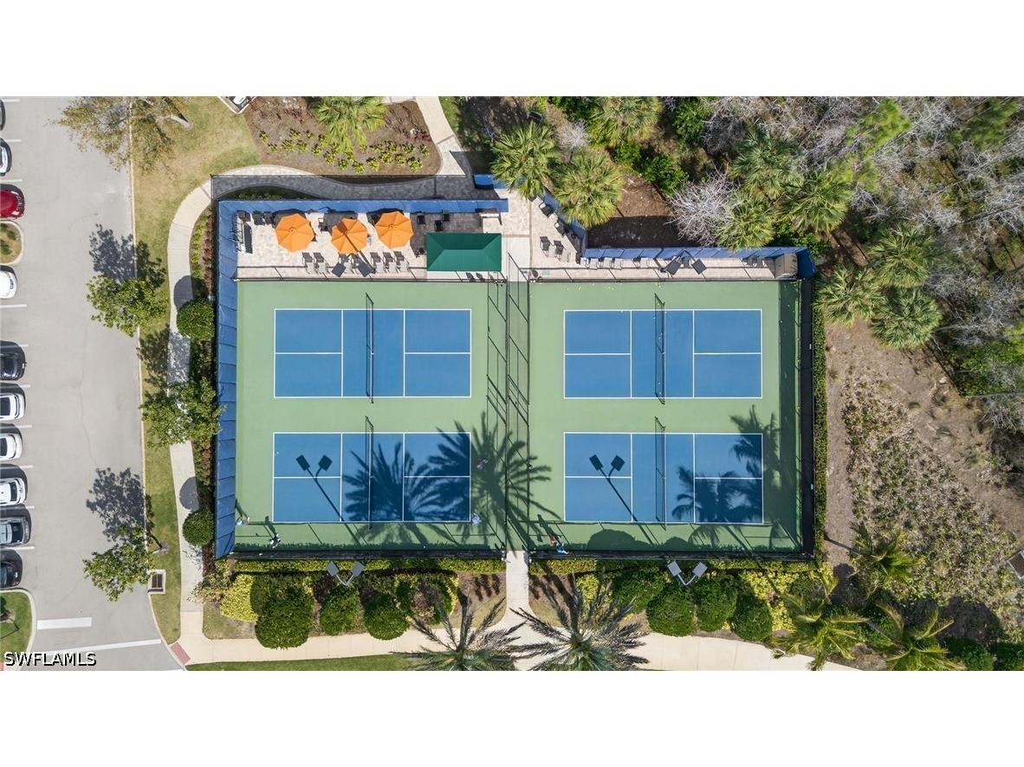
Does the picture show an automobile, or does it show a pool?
automobile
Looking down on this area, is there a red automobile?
Yes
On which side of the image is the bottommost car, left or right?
left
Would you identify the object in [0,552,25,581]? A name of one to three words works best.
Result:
car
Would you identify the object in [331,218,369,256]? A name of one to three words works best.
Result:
umbrella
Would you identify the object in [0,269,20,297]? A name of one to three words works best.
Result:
car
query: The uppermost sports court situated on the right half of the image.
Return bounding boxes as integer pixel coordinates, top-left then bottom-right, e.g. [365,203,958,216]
[564,309,762,398]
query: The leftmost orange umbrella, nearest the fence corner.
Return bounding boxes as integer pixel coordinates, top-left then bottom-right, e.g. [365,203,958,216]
[276,214,316,253]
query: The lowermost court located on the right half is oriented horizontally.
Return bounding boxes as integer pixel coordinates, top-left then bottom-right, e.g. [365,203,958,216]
[564,432,764,524]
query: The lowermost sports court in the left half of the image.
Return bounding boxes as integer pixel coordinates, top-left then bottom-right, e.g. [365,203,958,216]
[273,432,471,523]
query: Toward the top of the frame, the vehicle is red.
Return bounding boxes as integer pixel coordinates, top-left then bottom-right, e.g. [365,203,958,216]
[0,186,27,218]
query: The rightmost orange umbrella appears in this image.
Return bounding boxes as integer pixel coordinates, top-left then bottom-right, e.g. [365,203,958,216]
[374,210,414,250]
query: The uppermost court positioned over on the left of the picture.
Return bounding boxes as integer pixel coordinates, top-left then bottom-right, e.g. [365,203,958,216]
[274,309,471,398]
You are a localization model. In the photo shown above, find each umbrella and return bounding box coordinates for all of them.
[374,210,414,250]
[331,218,369,256]
[276,214,316,253]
